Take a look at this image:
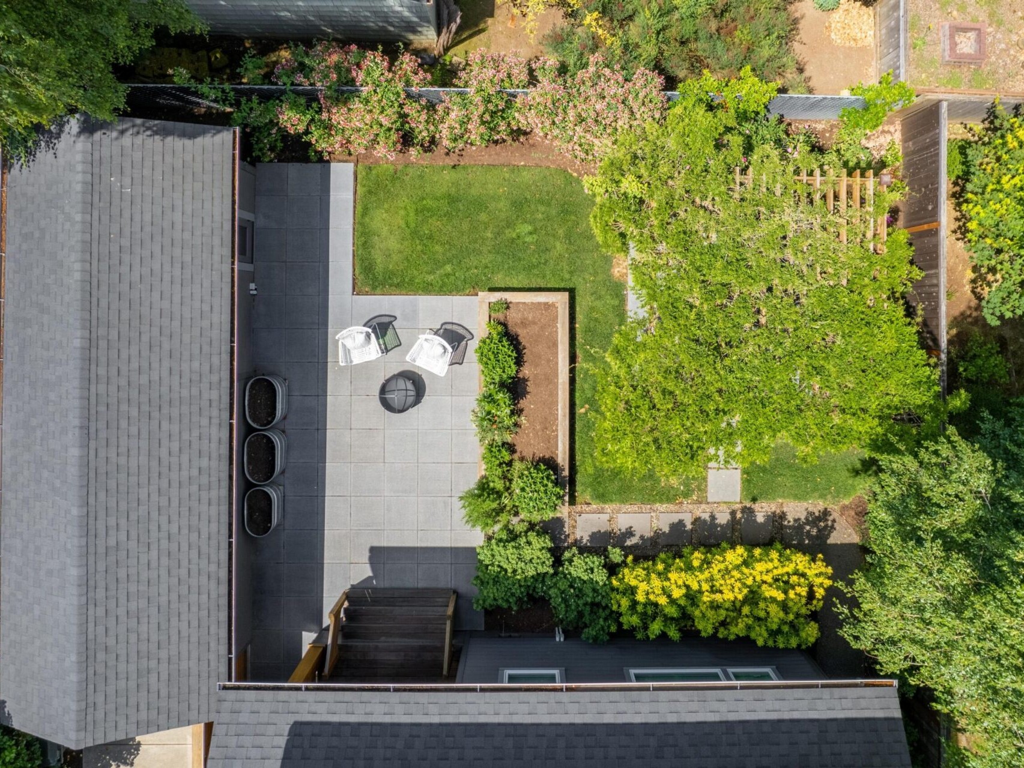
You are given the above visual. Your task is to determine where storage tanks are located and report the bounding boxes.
[244,485,284,537]
[244,431,286,484]
[245,376,286,429]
